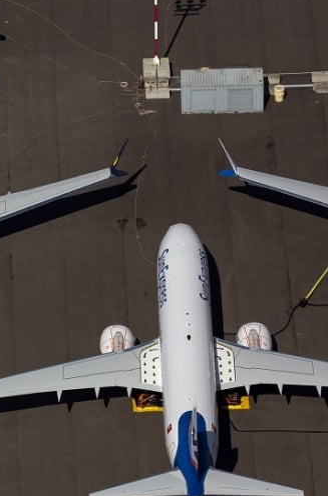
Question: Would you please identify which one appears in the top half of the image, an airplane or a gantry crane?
airplane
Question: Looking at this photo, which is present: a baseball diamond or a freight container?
freight container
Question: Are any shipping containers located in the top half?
Yes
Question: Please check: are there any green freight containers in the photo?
No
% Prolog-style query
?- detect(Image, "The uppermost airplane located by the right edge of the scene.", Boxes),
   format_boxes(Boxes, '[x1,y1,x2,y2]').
[220,140,328,206]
